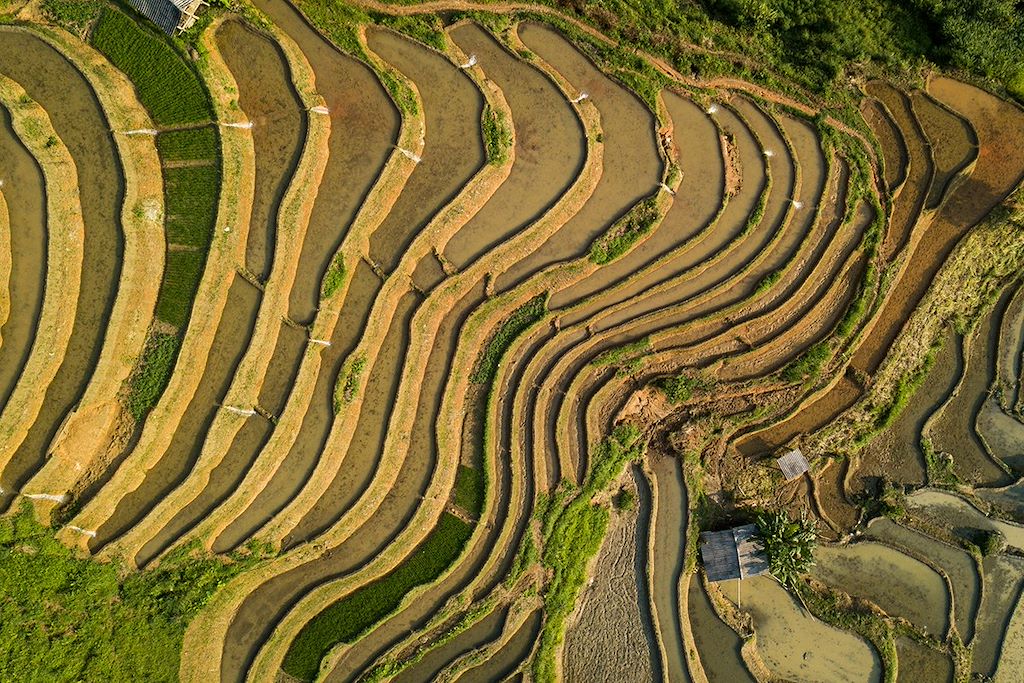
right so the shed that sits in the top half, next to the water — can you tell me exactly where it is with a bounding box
[130,0,219,44]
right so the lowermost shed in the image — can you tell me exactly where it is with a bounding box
[698,524,768,582]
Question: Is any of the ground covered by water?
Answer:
Yes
